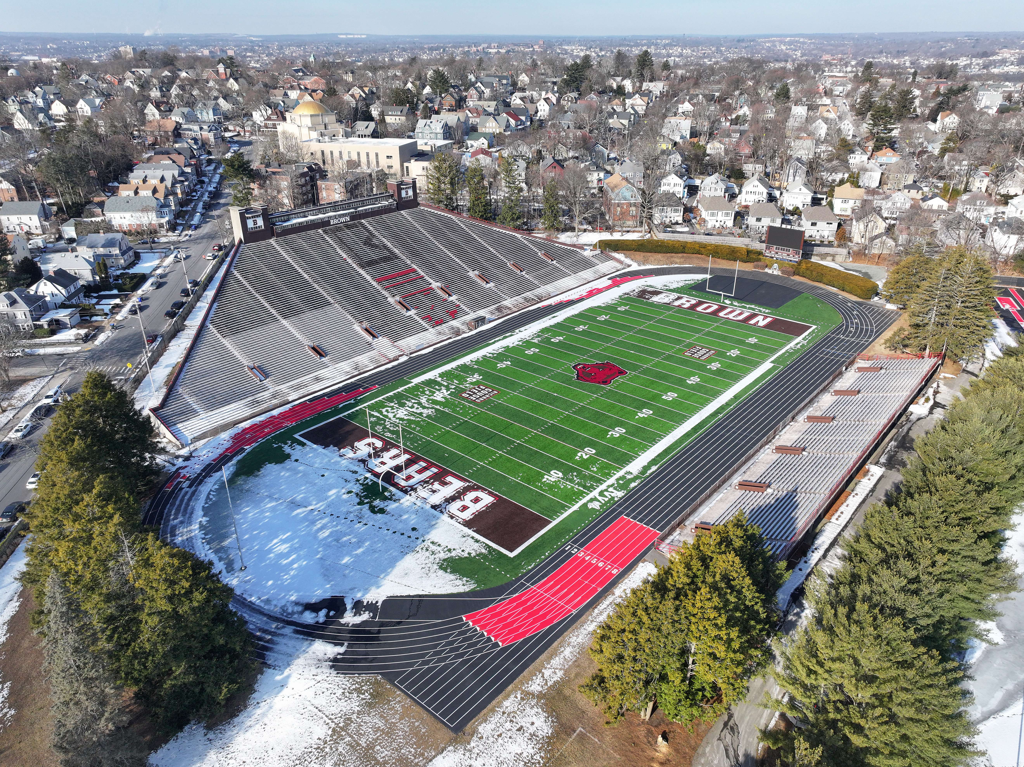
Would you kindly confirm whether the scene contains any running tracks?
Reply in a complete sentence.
Yes, the image includes a running track.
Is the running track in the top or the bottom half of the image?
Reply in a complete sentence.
It is in the bottom half that the running track appears.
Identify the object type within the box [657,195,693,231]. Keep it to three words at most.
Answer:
house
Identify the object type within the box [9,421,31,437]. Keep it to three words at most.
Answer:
car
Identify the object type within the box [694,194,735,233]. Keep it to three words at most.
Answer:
house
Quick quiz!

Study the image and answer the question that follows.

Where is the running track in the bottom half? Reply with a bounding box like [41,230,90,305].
[150,266,901,734]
